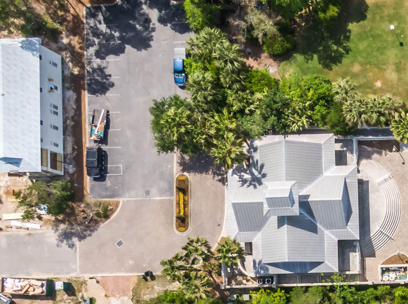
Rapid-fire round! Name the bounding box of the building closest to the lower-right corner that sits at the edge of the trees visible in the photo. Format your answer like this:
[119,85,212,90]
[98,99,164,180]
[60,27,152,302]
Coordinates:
[228,133,359,273]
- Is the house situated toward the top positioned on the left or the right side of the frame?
left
